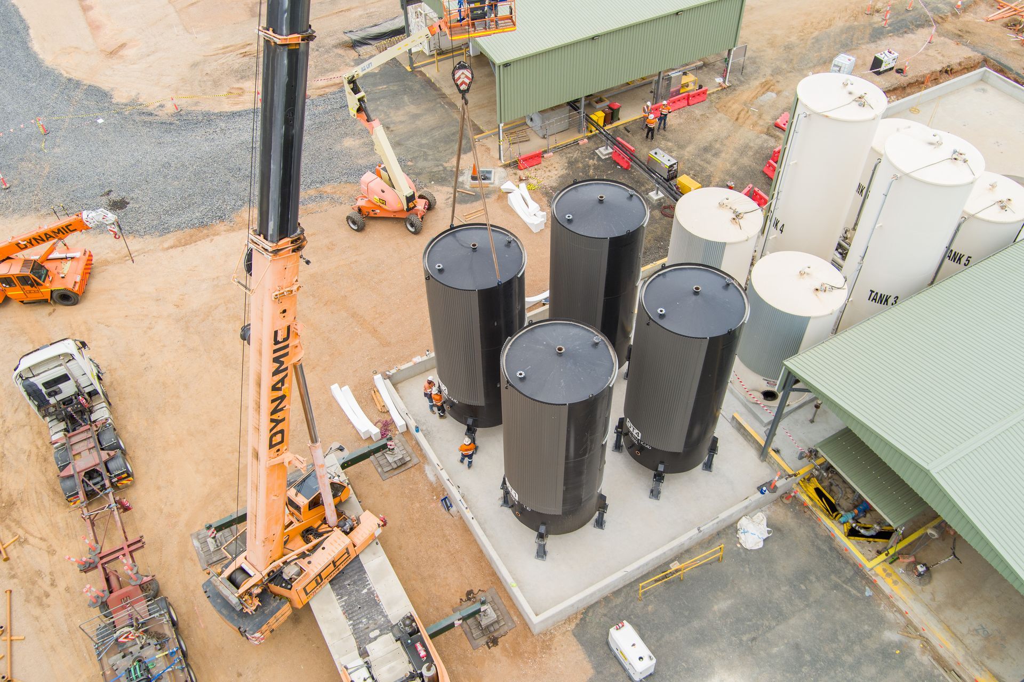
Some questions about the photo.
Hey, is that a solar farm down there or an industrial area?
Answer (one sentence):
What you see here is an industrial area.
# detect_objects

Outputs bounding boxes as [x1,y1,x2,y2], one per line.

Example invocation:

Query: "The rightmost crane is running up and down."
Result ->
[202,0,497,682]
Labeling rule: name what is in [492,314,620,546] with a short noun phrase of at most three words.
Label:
storage tank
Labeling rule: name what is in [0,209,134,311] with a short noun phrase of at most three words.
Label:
crane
